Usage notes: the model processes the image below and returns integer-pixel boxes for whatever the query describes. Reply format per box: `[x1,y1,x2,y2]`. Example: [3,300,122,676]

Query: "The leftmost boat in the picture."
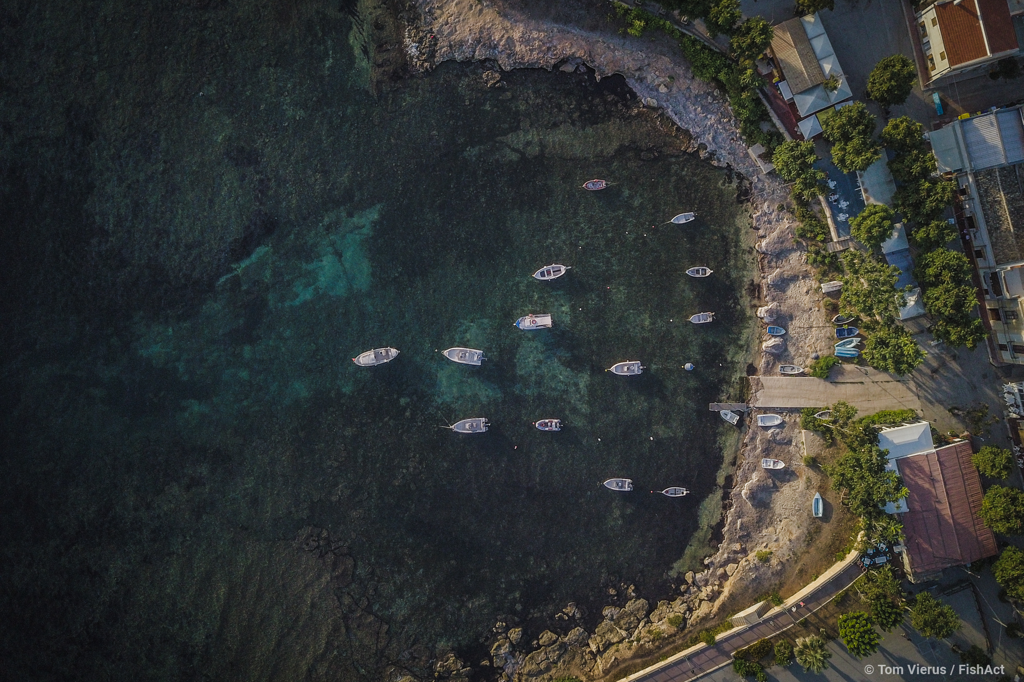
[348,345,400,367]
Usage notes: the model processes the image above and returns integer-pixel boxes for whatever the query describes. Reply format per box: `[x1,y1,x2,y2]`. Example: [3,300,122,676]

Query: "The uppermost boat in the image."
[582,179,612,191]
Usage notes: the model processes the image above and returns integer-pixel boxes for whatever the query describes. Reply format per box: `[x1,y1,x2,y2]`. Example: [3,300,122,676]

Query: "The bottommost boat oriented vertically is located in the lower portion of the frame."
[813,493,825,518]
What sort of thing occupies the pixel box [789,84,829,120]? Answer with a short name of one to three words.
tent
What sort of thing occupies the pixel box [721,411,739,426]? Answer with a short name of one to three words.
boat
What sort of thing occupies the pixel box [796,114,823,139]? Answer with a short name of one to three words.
tent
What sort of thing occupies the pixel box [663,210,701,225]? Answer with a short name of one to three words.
boat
